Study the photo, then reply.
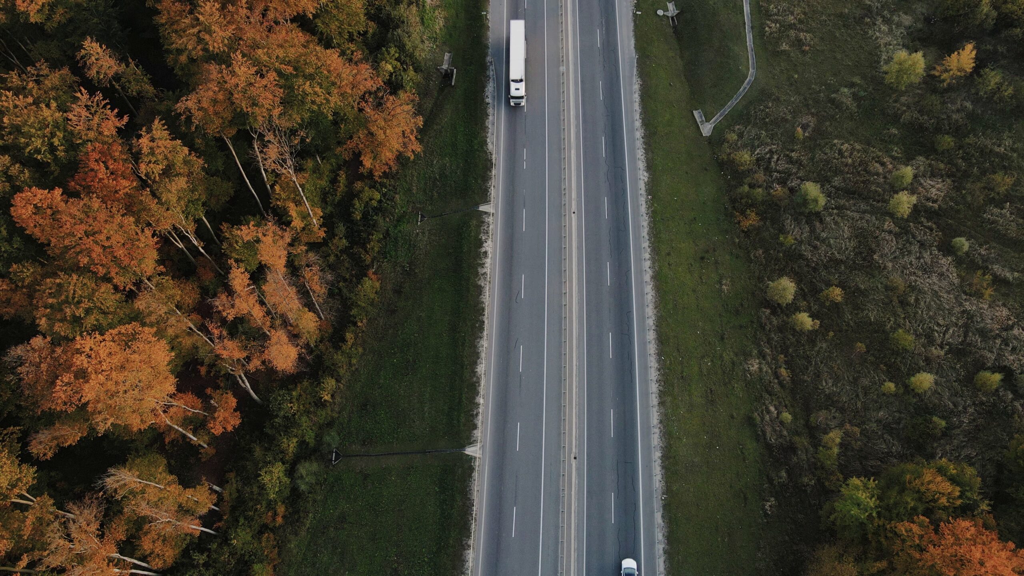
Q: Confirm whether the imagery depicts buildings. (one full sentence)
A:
No, no building is visible in the scene.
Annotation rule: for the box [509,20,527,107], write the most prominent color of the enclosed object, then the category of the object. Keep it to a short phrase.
white vehicle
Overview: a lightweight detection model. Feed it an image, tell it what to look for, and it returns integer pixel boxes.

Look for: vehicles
[509,20,527,107]
[621,558,638,576]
